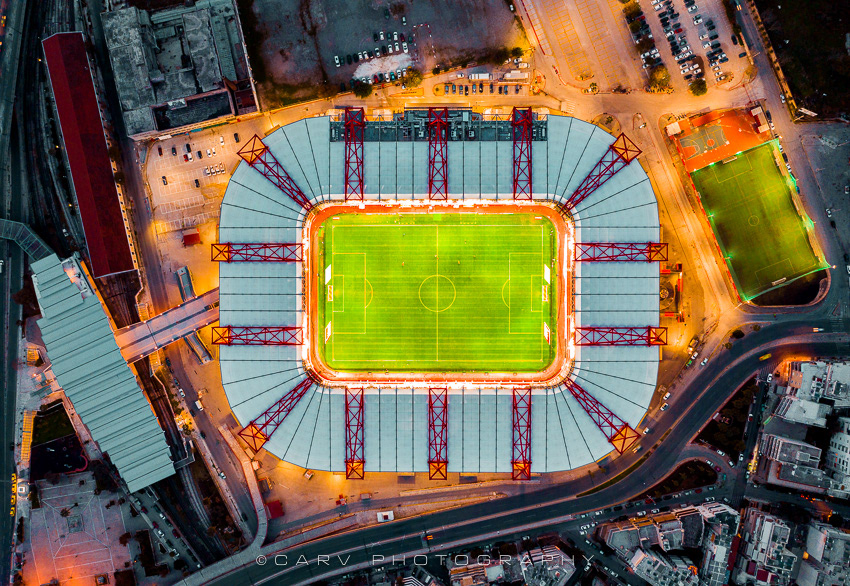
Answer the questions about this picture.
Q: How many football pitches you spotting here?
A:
2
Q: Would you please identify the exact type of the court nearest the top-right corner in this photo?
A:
basketball court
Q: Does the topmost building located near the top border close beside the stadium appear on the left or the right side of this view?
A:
left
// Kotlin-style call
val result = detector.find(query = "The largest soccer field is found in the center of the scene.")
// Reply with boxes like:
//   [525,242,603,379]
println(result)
[319,213,556,373]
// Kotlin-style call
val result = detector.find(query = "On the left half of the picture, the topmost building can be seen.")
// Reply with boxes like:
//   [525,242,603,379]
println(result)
[100,0,267,142]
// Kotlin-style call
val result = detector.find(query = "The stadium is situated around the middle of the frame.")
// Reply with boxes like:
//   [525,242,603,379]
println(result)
[210,106,667,480]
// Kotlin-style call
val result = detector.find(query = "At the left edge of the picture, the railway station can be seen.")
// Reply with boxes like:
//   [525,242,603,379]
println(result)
[30,249,177,493]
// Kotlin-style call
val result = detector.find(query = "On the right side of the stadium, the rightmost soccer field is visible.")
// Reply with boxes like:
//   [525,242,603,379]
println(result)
[690,140,829,300]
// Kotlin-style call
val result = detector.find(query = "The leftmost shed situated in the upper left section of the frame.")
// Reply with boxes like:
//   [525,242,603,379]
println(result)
[42,32,149,279]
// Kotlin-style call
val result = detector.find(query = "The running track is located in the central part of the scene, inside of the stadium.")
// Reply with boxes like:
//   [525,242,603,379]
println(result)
[309,205,566,381]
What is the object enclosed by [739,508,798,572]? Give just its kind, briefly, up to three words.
building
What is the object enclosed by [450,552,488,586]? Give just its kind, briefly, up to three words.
building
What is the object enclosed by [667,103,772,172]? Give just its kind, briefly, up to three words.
basketball court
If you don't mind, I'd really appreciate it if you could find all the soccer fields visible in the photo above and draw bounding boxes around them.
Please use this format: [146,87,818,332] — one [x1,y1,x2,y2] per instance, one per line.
[690,140,829,300]
[319,213,556,373]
